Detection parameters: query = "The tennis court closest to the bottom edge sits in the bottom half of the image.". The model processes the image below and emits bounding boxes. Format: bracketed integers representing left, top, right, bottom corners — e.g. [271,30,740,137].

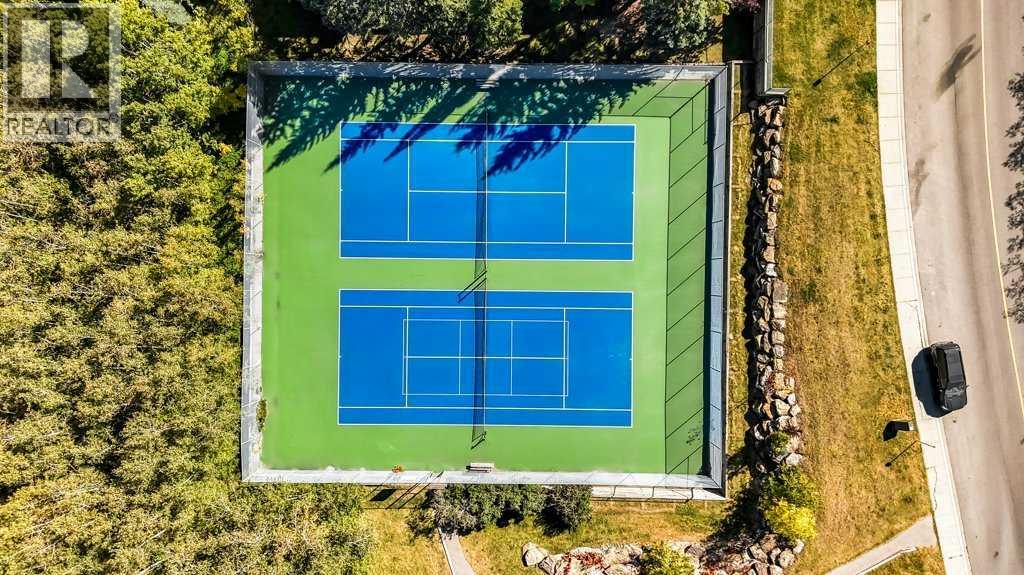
[338,289,634,427]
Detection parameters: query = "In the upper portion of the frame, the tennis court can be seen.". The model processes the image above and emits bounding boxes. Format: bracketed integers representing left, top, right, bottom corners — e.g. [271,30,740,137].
[340,122,635,260]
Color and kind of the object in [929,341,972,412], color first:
black car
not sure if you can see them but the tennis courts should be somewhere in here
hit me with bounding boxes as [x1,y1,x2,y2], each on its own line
[340,122,635,260]
[338,289,634,427]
